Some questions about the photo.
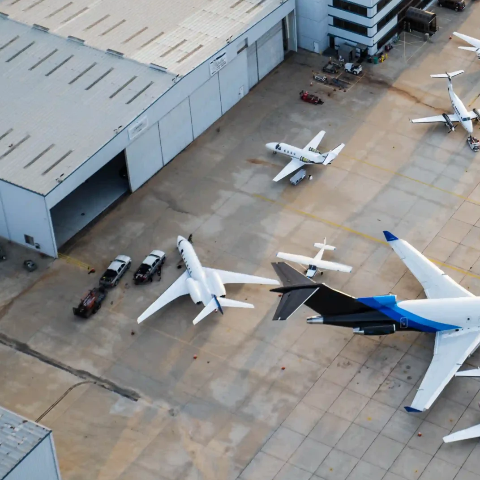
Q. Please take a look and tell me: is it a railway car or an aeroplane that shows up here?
aeroplane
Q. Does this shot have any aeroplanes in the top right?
Yes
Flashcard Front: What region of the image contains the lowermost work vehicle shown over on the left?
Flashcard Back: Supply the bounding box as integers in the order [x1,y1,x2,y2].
[69,282,105,318]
